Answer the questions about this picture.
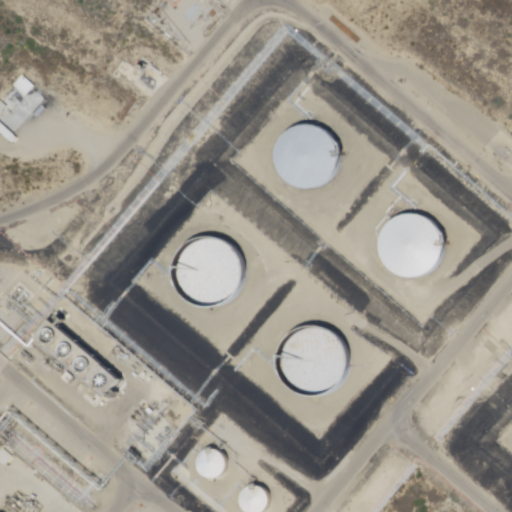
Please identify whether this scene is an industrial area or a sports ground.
industrial area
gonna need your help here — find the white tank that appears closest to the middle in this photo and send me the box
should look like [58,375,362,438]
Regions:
[170,235,246,308]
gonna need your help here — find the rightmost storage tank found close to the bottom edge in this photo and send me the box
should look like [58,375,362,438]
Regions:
[238,484,272,512]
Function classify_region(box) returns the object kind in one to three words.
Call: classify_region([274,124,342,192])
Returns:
storage tank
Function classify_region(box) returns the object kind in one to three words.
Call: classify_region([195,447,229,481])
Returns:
storage tank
